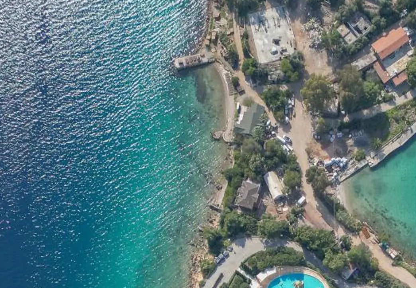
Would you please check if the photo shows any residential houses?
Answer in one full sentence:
Yes, there is a residential house in the image.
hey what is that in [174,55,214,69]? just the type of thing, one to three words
pier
